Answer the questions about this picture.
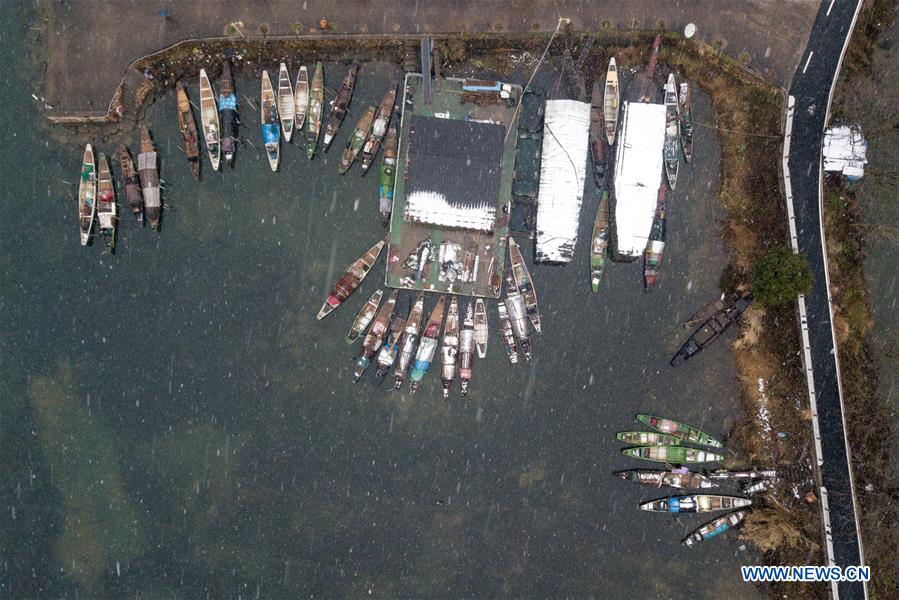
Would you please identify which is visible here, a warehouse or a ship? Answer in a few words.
ship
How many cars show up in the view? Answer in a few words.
0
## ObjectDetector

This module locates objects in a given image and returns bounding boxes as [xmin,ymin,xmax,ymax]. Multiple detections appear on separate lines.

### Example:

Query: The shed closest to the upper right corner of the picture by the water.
[823,124,867,182]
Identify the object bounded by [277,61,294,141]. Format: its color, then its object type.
white boat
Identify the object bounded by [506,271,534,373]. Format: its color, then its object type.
gray boat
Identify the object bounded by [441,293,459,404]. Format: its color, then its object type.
white boat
